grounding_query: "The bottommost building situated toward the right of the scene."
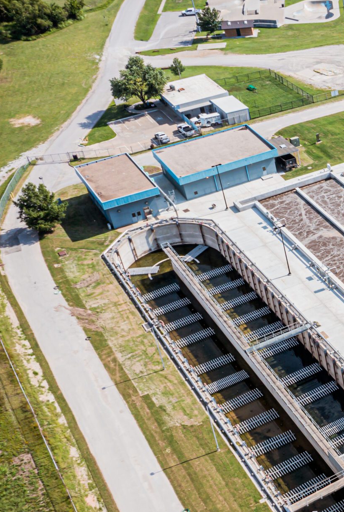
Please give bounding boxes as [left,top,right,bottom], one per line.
[152,123,298,200]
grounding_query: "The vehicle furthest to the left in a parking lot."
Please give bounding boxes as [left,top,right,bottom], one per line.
[152,129,170,143]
